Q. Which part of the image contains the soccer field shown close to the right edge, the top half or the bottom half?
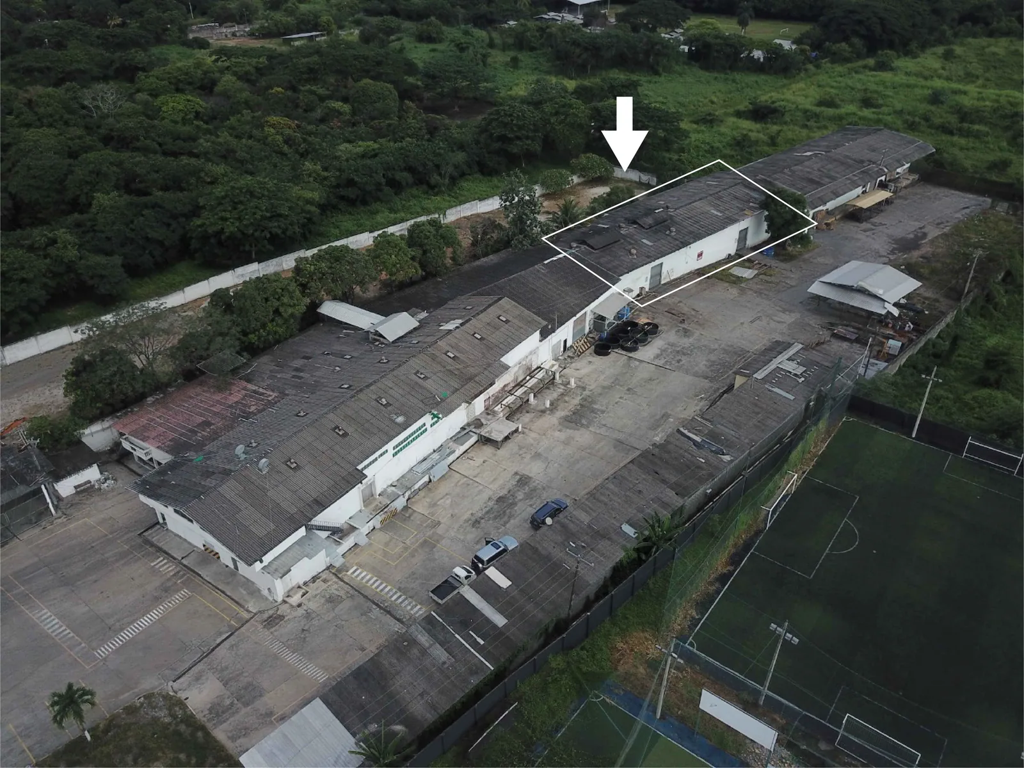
bottom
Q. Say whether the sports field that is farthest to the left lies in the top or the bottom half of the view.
bottom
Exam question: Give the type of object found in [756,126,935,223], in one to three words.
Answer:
building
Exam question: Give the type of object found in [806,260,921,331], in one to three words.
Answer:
shed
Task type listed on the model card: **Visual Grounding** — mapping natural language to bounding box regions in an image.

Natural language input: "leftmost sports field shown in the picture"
[535,693,713,768]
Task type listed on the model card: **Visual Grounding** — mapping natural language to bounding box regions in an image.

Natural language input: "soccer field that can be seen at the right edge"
[691,417,1024,768]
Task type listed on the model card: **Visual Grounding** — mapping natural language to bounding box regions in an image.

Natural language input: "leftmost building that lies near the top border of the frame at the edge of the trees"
[189,18,252,40]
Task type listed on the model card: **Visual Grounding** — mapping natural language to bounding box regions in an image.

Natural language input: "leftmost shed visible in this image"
[0,444,56,510]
